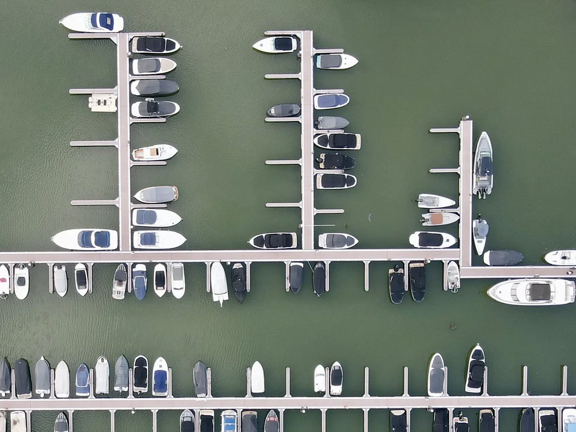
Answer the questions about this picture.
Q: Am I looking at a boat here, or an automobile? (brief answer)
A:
boat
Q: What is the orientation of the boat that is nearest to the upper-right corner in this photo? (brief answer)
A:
up and down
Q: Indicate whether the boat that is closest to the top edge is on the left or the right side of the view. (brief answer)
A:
left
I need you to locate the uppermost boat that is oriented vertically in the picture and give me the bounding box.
[474,132,493,204]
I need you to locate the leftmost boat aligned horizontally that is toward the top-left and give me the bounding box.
[58,10,125,33]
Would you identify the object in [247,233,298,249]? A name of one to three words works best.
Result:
boat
